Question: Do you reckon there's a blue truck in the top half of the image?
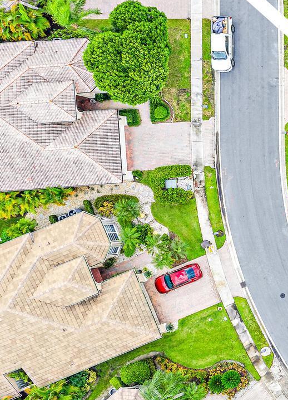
No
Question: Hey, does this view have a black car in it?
No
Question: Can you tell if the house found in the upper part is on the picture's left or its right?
left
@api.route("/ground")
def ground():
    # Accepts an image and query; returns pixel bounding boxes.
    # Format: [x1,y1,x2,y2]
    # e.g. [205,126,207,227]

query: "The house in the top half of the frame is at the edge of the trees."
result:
[0,37,128,191]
